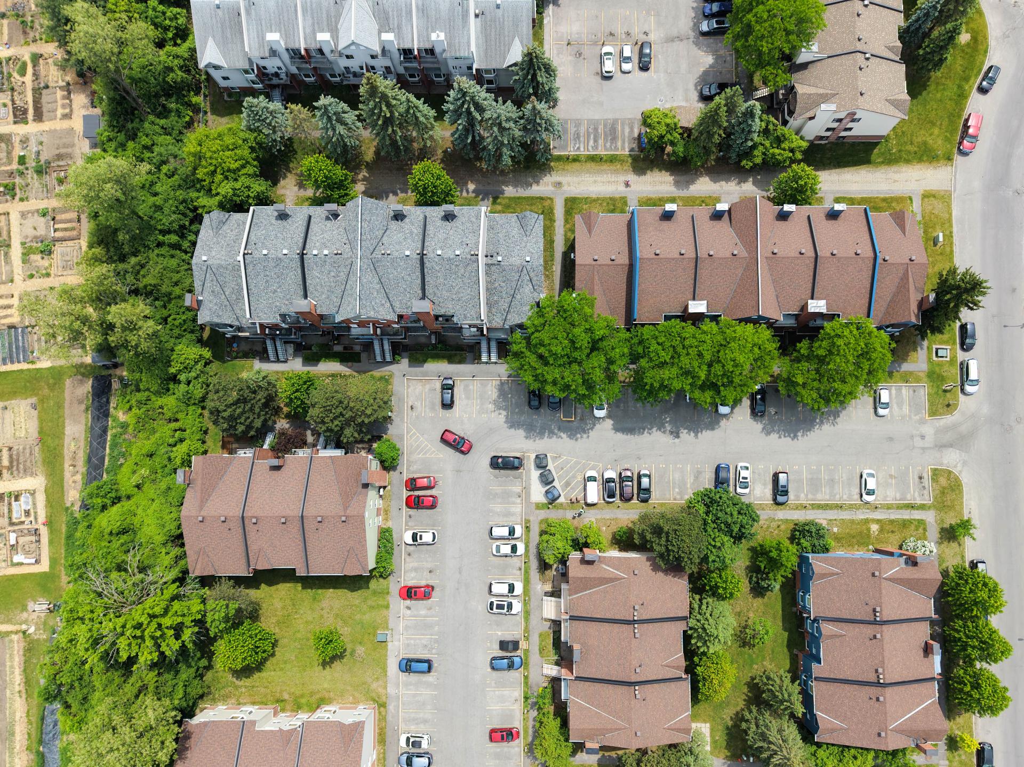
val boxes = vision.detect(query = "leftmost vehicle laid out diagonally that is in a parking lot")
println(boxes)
[439,428,473,454]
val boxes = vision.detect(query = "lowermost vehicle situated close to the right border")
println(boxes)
[976,736,996,767]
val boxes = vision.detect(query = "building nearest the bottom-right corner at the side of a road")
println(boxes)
[795,542,948,758]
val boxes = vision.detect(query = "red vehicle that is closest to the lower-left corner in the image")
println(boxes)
[400,585,432,601]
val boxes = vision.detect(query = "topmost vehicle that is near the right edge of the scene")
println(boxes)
[976,63,1003,94]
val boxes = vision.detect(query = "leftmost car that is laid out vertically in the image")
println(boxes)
[440,377,455,409]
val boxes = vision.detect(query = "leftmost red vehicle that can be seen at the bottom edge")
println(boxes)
[488,727,518,744]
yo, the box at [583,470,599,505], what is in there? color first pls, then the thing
white vehicle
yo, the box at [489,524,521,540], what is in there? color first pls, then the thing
white car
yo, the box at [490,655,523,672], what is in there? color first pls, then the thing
blue car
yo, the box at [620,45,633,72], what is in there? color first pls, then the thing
white vehicle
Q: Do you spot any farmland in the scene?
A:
No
